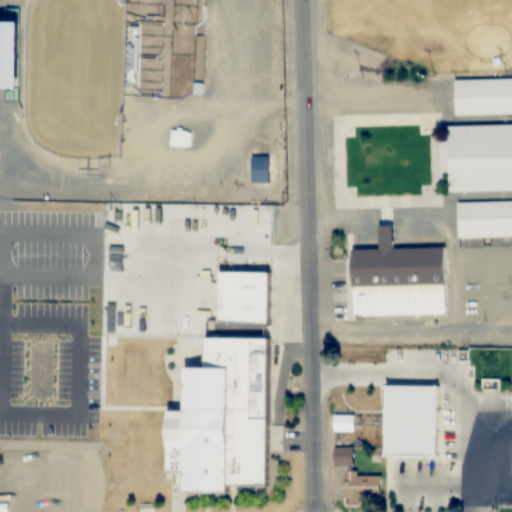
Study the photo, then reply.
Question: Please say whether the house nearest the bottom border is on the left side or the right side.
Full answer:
The house nearest the bottom border sits on the right side.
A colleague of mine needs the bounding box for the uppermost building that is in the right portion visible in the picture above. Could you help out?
[454,78,512,116]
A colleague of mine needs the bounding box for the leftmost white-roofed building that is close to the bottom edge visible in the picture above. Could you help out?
[164,338,270,492]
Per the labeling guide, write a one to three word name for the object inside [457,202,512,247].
barn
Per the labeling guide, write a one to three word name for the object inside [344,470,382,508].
house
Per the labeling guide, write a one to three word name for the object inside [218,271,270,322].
building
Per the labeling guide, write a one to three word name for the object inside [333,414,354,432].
building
